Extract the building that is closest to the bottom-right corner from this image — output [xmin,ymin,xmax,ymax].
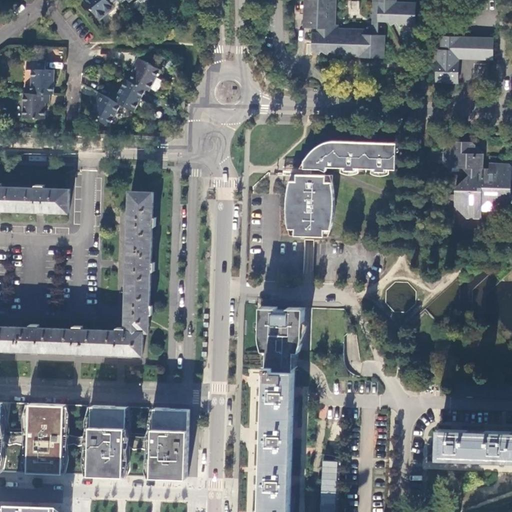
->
[433,426,512,466]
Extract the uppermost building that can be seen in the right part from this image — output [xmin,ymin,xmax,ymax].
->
[303,0,417,58]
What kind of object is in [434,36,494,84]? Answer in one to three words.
house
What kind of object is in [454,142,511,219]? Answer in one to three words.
house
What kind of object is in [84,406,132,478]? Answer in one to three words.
building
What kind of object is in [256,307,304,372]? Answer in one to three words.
building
